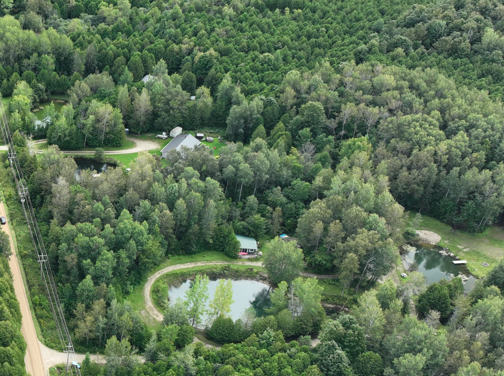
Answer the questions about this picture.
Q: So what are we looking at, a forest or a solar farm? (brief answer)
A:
forest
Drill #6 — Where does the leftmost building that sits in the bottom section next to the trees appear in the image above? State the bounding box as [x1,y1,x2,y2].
[233,232,260,257]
